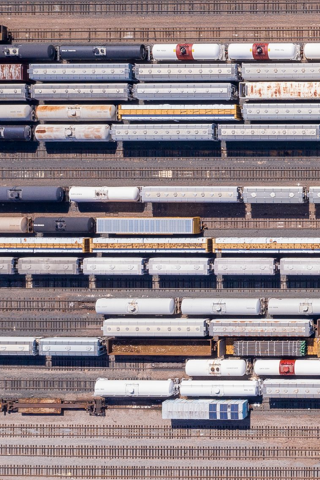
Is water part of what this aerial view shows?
No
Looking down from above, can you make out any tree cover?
No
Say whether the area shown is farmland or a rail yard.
rail yard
